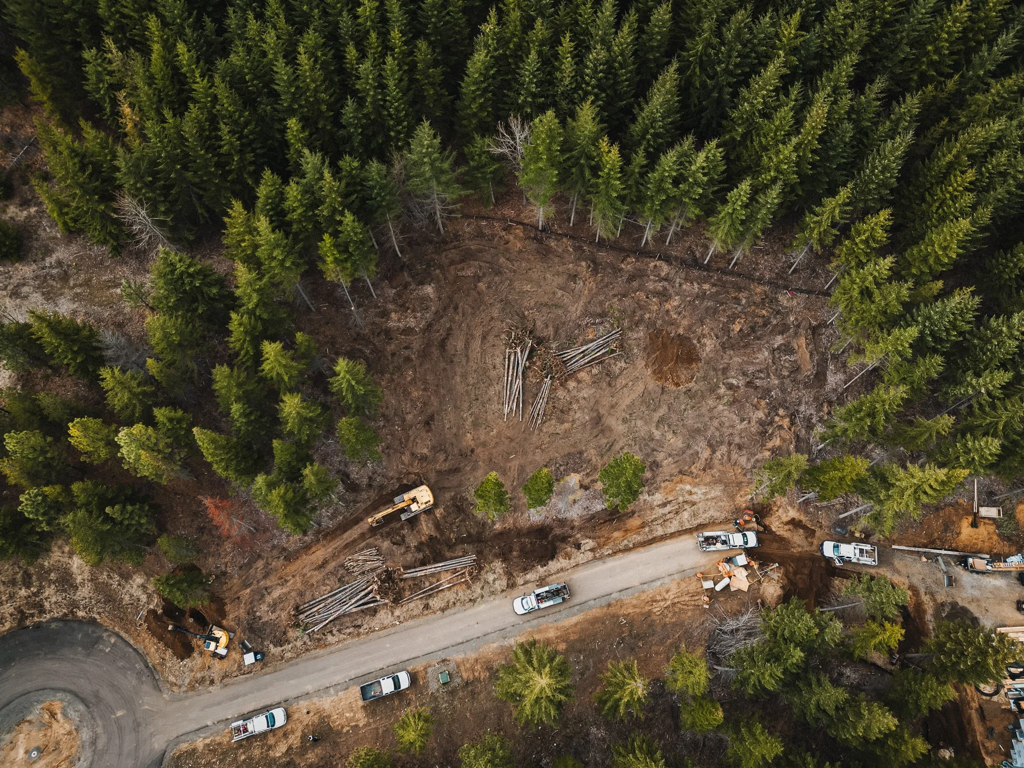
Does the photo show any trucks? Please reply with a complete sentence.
Yes, the picture does show a truck.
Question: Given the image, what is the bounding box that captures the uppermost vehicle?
[365,485,433,526]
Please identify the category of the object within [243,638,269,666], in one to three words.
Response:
work vehicle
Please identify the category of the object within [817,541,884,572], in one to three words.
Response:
truck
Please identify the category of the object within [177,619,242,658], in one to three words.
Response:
work vehicle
